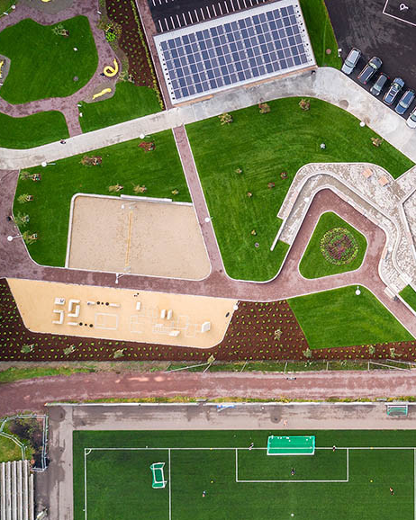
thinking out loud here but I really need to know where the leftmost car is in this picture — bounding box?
[342,47,361,75]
